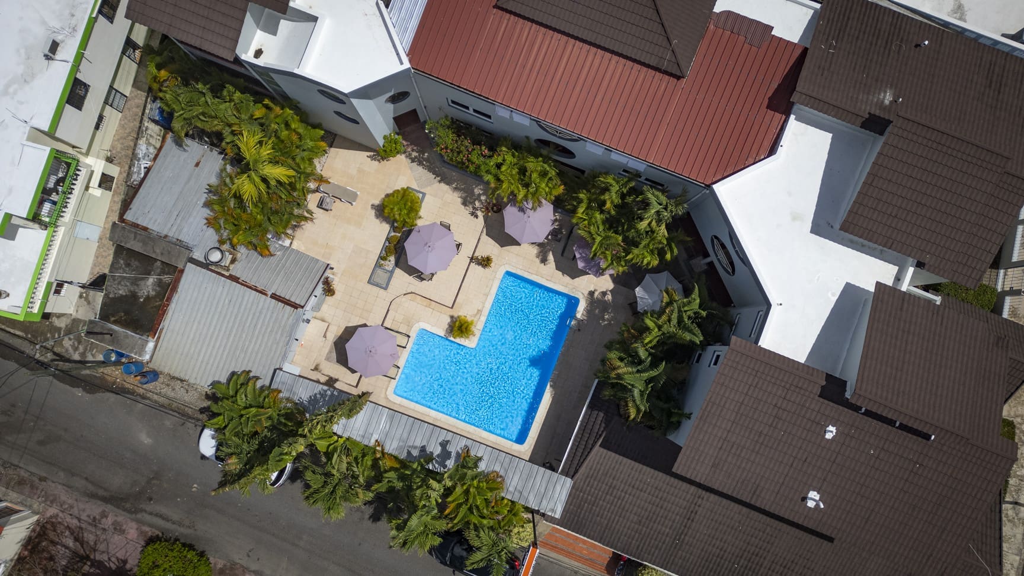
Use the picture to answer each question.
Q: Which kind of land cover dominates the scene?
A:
buildings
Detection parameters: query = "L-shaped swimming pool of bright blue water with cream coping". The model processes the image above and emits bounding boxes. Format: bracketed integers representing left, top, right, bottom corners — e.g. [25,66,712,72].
[386,263,587,452]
